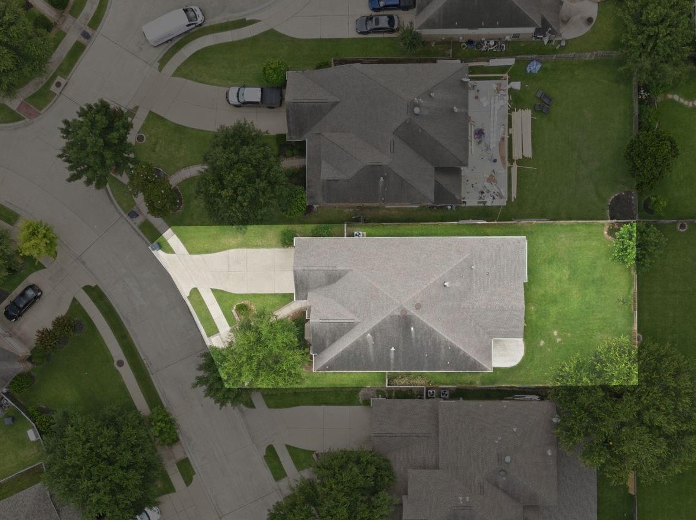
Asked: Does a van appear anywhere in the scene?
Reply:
Yes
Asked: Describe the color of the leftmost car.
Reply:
black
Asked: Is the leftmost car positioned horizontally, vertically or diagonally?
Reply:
diagonally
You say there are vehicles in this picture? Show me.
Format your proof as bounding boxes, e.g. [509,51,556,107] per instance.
[1,279,44,326]
[367,0,414,13]
[226,84,284,109]
[354,13,401,35]
[123,505,164,520]
[137,5,204,48]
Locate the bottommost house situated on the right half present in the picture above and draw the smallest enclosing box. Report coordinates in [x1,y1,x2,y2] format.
[370,398,598,520]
